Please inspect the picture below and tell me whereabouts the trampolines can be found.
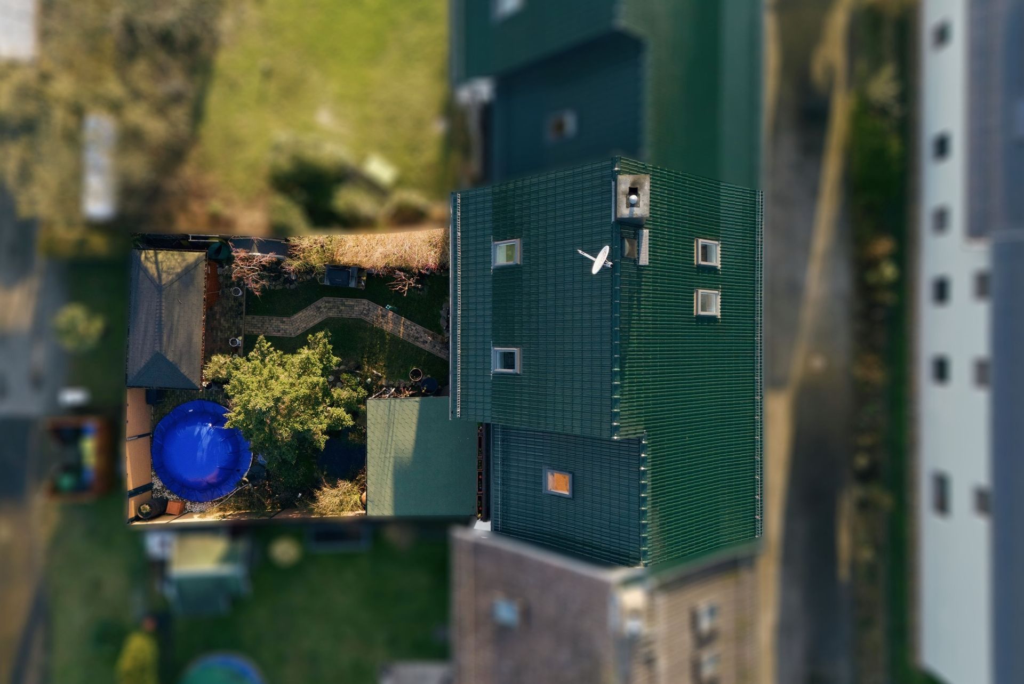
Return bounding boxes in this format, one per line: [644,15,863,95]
[183,649,268,684]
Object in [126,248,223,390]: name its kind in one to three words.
shed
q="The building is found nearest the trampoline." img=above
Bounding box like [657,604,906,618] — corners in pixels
[166,528,261,615]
